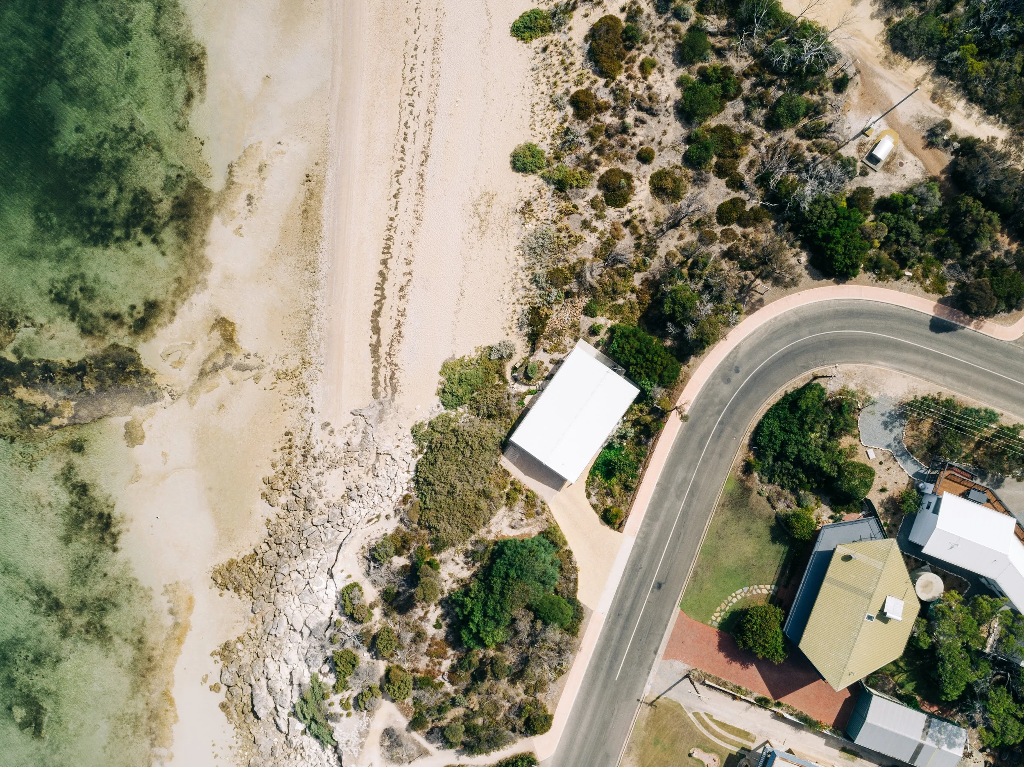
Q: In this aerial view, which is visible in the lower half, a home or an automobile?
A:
home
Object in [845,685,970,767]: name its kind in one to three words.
shed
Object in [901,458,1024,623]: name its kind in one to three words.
house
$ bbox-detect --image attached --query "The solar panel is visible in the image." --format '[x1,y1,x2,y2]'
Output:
[876,588,908,623]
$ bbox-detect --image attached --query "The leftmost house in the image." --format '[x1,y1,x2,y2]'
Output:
[510,338,641,484]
